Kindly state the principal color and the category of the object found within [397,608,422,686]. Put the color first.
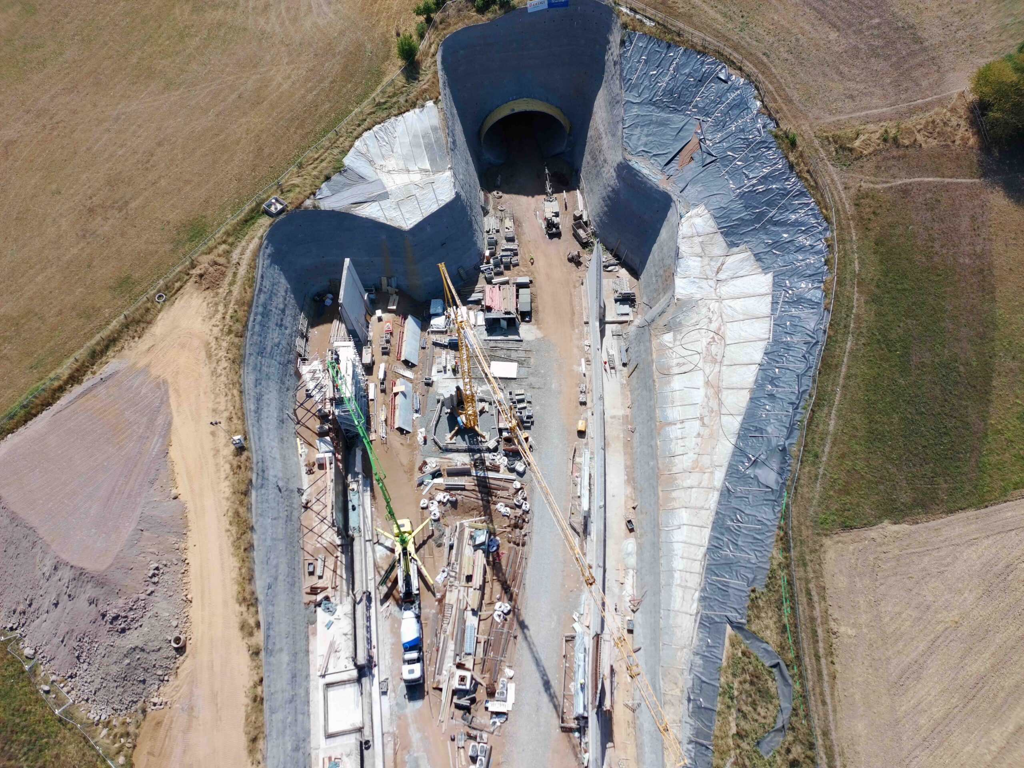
white truck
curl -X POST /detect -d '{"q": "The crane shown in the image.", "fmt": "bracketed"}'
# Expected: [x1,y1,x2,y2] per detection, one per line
[434,262,695,765]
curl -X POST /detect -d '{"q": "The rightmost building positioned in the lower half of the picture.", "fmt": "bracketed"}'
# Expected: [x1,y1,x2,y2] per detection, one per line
[452,670,472,693]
